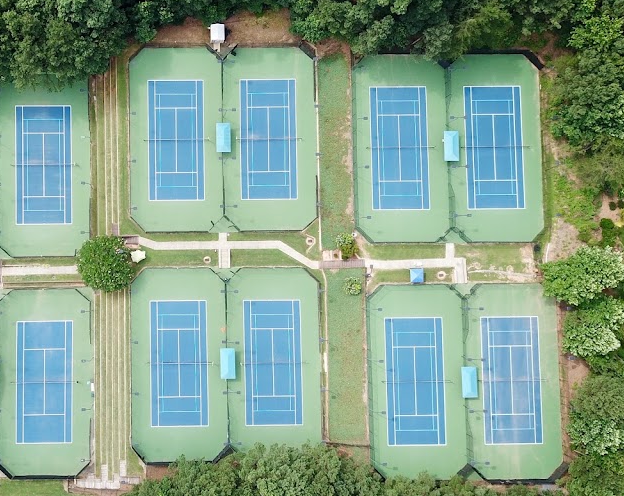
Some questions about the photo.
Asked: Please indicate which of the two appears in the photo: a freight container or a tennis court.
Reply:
tennis court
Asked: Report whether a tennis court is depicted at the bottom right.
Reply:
Yes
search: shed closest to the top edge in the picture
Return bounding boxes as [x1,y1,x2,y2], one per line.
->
[210,23,225,46]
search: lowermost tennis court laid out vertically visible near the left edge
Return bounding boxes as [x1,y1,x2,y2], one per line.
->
[0,289,91,476]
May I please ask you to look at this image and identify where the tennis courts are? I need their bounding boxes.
[131,267,241,464]
[464,284,563,477]
[226,267,323,461]
[0,70,90,256]
[0,289,91,476]
[447,53,545,241]
[353,54,465,242]
[222,47,318,231]
[367,285,483,479]
[129,48,240,232]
